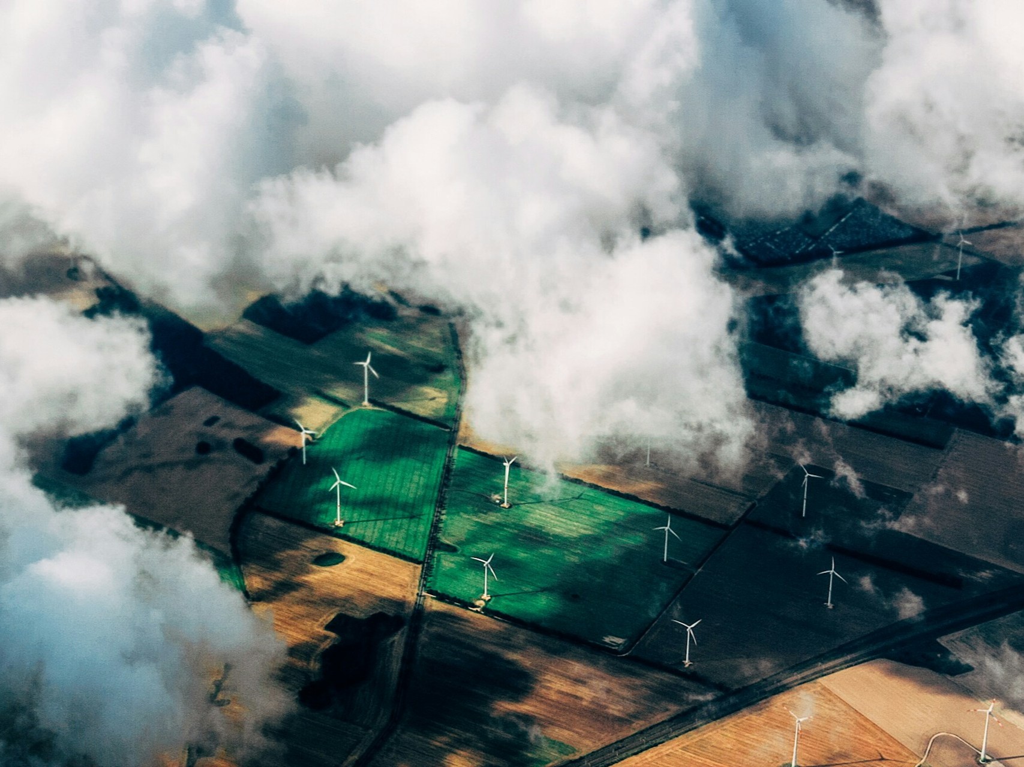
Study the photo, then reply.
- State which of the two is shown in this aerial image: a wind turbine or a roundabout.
wind turbine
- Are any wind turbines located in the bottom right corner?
Yes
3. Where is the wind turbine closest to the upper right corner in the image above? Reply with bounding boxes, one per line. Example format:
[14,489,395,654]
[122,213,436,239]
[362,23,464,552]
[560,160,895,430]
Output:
[951,229,971,277]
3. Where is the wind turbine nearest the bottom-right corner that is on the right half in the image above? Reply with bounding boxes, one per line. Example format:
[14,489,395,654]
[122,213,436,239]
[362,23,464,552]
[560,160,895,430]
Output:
[964,698,1000,758]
